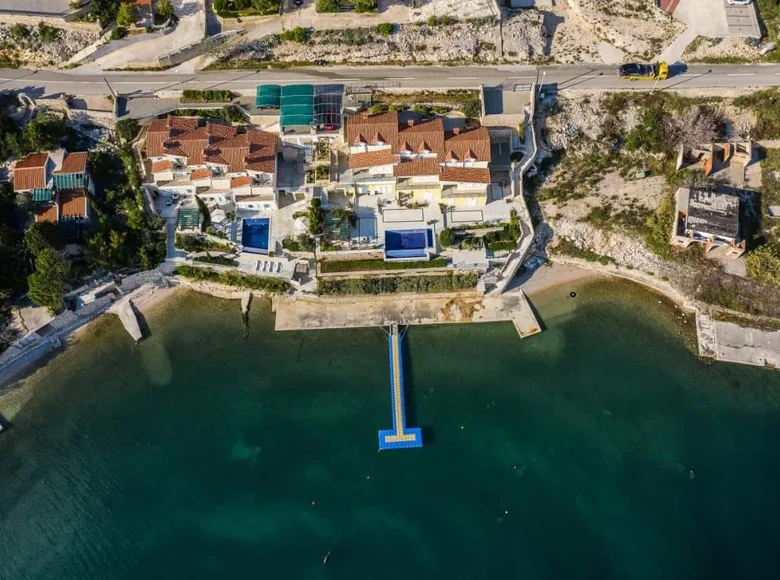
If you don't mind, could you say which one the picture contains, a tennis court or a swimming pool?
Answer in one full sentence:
Of the two, only a swimming pool appears.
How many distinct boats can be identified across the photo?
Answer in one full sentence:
The photo contains no boats.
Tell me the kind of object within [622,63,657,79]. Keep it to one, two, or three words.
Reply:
car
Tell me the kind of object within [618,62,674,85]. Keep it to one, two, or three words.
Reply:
truck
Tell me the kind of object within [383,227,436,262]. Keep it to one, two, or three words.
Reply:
swimming pool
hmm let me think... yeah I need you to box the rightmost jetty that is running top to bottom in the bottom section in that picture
[378,325,425,458]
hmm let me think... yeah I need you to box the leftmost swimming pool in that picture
[241,216,270,255]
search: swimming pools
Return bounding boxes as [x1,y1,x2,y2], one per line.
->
[383,227,436,262]
[241,216,270,255]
